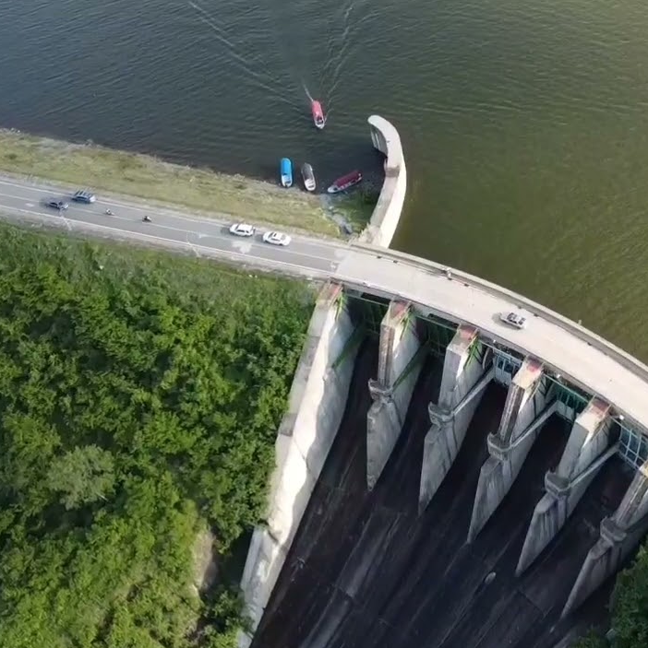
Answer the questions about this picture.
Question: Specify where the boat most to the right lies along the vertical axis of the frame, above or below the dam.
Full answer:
In the image, the boat most to the right appears above the dam.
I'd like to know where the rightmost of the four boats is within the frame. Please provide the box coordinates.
[327,171,363,193]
